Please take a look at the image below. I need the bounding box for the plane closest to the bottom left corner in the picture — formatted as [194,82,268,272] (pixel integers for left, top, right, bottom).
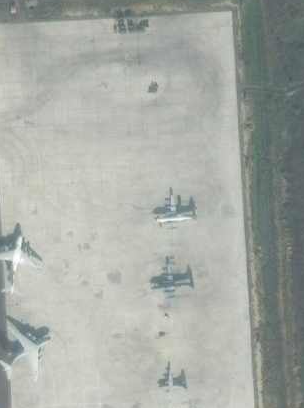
[0,325,49,379]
